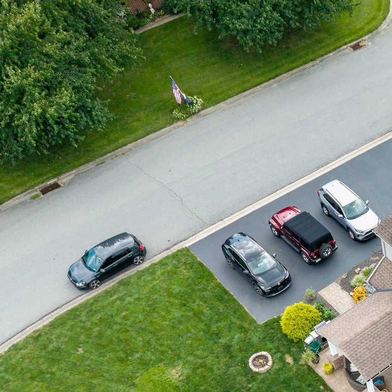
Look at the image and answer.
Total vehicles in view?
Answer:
four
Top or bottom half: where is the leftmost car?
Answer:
bottom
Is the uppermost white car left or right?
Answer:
right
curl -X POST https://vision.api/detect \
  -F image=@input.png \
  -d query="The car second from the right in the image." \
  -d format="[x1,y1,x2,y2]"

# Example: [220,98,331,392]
[267,205,340,265]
